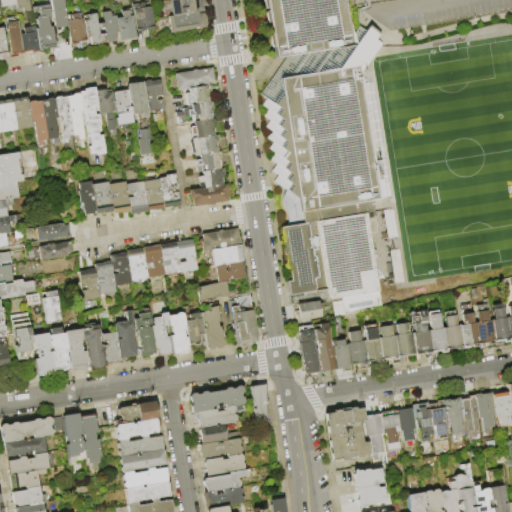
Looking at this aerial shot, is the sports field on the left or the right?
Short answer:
right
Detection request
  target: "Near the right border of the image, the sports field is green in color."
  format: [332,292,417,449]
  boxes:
[375,34,512,282]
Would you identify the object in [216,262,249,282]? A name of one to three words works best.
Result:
building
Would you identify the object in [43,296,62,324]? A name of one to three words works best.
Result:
house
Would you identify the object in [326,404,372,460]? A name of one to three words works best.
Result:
building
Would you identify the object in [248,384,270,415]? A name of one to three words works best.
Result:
house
